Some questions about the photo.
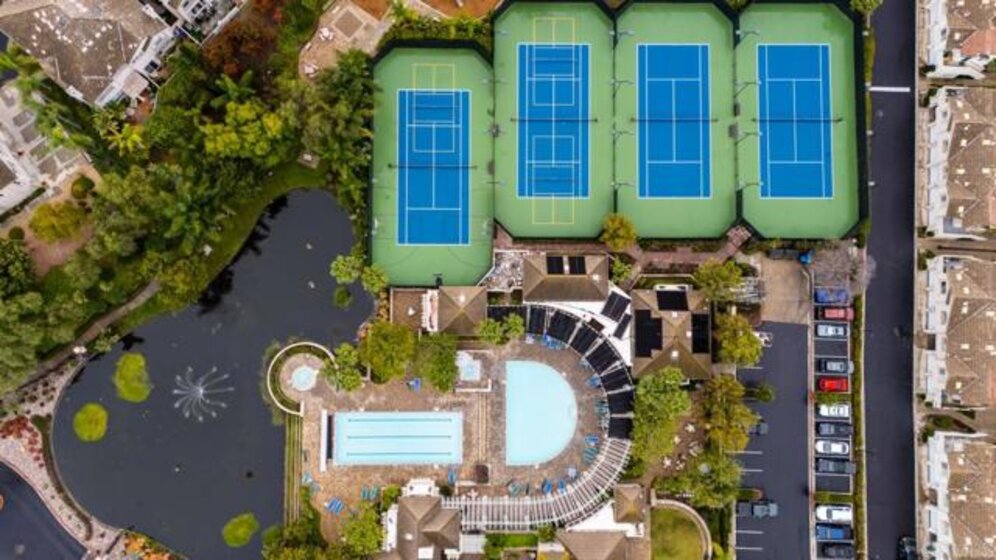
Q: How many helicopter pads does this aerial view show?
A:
0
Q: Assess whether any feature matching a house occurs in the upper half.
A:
Yes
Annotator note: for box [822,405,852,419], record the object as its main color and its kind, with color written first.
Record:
white vehicle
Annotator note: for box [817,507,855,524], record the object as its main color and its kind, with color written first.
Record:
white vehicle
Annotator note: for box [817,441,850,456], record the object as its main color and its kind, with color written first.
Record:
white car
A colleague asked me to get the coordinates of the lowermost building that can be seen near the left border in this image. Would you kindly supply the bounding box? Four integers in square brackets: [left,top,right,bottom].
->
[0,152,34,217]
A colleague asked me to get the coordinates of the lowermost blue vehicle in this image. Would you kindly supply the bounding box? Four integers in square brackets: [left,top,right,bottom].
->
[816,526,856,543]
